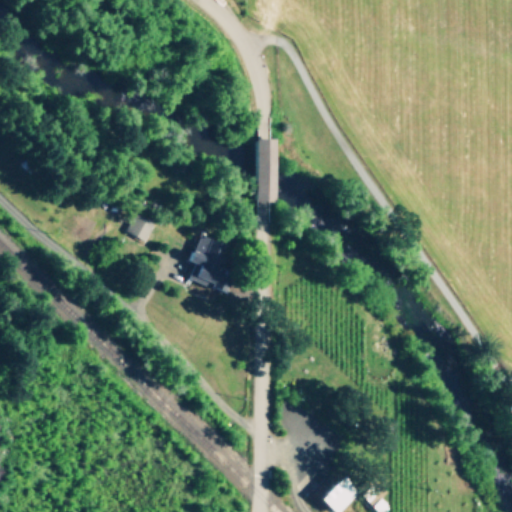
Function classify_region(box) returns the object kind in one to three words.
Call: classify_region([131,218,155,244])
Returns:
house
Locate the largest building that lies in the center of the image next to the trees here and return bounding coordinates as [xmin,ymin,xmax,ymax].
[189,232,224,291]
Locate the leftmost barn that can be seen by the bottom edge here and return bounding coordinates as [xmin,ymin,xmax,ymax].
[321,478,357,512]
